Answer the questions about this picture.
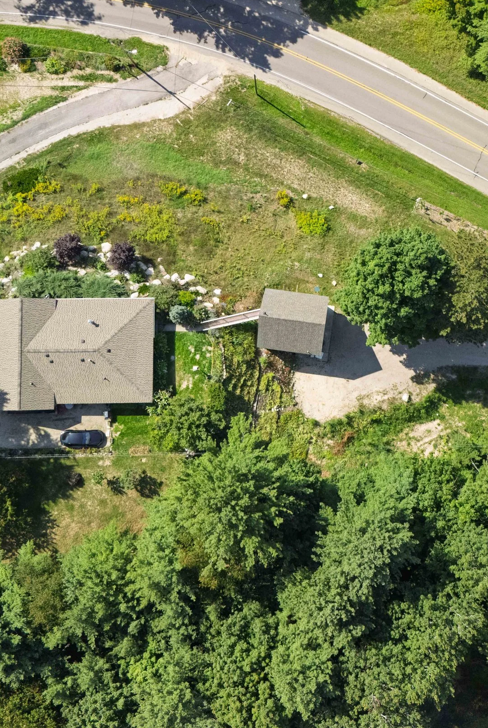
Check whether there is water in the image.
No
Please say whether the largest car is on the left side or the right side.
left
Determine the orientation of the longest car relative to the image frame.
horizontally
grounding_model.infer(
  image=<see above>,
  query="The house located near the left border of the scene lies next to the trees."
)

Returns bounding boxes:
[0,294,156,410]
